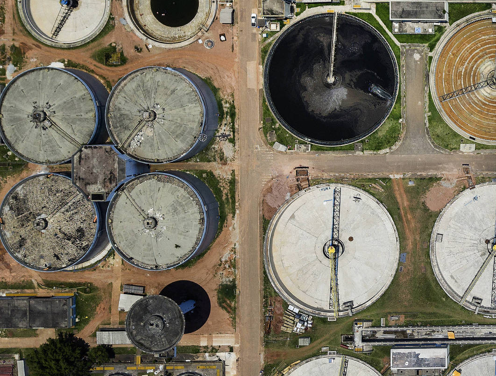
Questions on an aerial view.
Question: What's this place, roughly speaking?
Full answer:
The picture captures an industrial area.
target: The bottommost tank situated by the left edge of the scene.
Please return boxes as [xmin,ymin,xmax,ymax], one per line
[0,169,111,273]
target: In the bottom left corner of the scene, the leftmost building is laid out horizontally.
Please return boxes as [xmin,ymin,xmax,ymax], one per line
[0,297,77,328]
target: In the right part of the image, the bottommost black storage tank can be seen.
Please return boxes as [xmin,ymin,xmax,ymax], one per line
[265,10,400,147]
